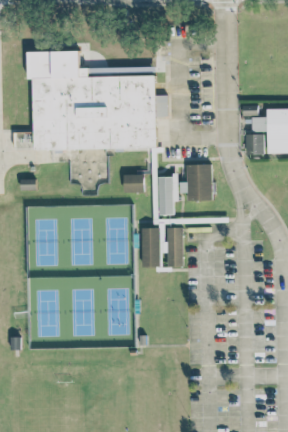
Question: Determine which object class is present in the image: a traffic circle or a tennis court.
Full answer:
The one in the frame is a tennis court.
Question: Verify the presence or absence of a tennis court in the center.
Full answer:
Yes, a tennis court can be seen in the center.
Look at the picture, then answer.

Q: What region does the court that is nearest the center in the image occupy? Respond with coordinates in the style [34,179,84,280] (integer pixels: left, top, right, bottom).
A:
[106,217,130,264]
